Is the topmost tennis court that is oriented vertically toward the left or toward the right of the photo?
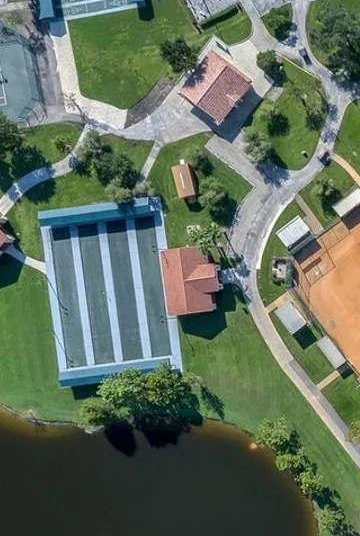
left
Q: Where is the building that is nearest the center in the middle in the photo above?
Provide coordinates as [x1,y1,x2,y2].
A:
[161,246,231,317]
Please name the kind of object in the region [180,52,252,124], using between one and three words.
building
